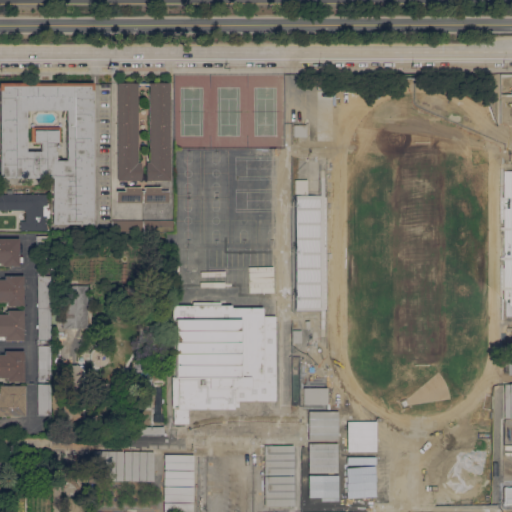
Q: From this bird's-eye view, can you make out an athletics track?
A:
Yes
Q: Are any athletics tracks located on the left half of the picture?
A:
No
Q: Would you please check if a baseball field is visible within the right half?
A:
Yes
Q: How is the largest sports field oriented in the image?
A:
from top to bottom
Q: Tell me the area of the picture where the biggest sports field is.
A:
right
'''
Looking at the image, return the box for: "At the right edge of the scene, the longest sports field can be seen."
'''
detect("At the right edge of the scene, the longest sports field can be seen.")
[347,147,487,415]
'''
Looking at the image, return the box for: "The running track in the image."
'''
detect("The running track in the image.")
[335,111,499,427]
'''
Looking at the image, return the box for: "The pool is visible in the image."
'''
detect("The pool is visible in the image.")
[34,112,56,124]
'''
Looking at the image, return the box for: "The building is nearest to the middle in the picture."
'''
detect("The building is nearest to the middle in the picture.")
[249,267,274,294]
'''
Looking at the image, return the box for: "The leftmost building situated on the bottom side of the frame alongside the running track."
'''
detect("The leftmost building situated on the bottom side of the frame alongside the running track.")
[172,302,276,426]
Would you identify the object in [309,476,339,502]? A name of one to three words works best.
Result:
building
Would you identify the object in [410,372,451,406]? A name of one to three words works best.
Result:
baseball field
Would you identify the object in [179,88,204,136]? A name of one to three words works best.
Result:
tennis court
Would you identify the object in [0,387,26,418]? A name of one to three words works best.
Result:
house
